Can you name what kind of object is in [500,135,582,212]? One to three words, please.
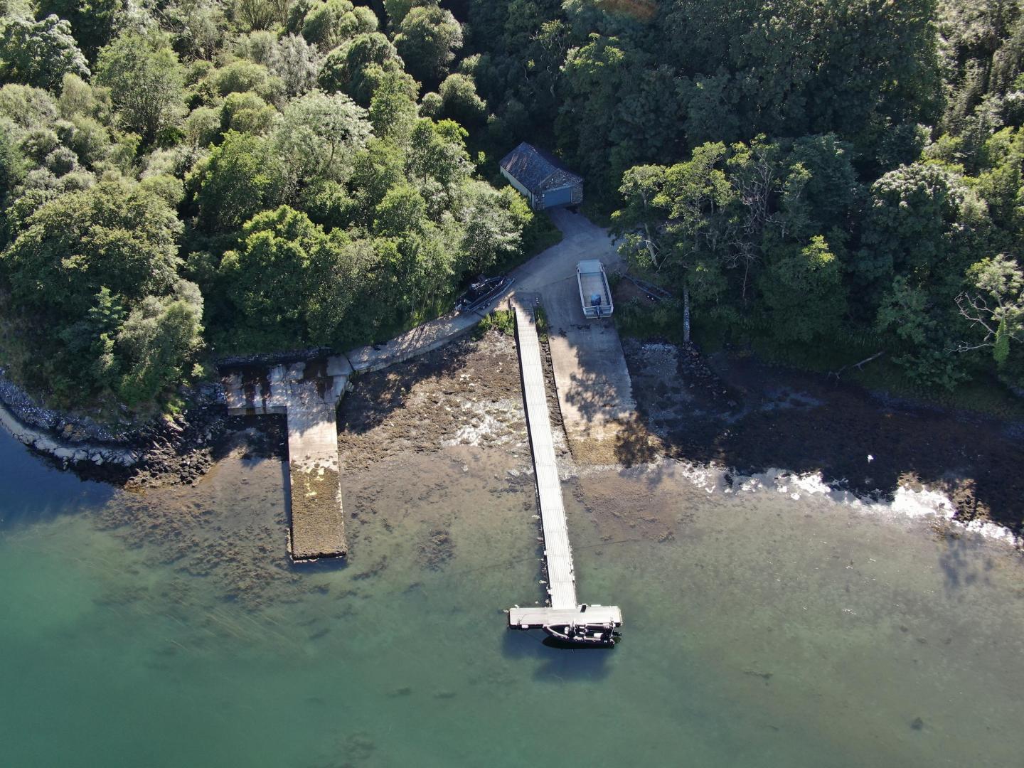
building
